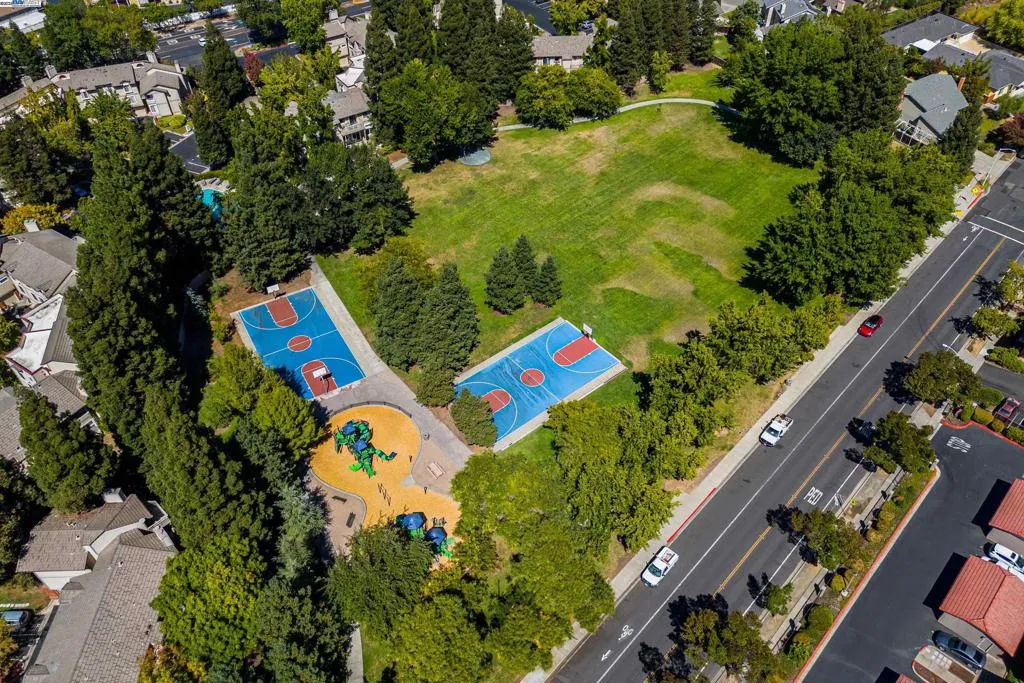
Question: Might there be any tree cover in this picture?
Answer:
Yes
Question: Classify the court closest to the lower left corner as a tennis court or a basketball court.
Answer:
basketball court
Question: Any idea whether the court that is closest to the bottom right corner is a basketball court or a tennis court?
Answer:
basketball court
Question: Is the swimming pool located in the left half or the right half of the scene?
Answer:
left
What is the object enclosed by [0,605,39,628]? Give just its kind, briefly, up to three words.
car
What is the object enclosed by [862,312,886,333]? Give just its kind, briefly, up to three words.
car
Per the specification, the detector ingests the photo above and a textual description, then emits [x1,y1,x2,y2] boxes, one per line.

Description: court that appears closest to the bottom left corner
[234,285,366,406]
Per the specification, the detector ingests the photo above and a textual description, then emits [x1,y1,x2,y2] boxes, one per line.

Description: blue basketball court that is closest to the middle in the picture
[441,316,627,447]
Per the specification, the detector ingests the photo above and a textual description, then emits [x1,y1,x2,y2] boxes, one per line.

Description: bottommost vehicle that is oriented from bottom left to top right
[639,543,682,586]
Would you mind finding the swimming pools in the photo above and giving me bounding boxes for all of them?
[193,176,238,240]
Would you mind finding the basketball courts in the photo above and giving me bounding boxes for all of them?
[441,316,627,447]
[234,285,366,406]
